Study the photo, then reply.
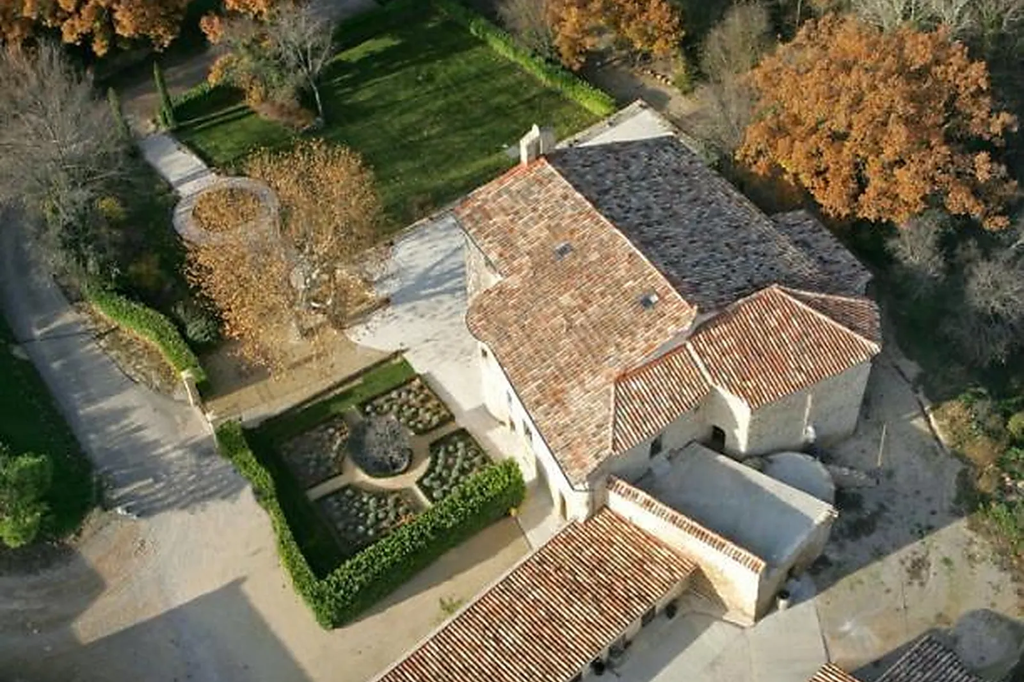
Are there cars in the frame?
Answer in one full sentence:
No, there isn't any car down there.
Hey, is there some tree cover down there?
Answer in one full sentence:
Yes, the picture does contain tree cover.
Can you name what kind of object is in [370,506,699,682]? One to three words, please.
shed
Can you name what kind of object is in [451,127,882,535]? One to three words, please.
house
